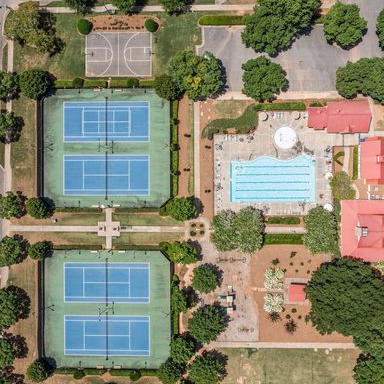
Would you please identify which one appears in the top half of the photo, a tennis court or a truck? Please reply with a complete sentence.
You can see a tennis court in the top half of the photo.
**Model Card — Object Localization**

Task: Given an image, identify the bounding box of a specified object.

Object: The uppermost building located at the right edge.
[306,101,371,135]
